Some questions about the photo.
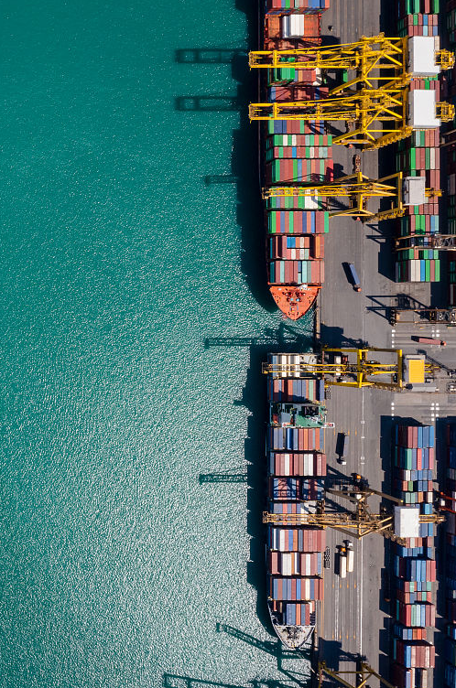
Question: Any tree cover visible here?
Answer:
No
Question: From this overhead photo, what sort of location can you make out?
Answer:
port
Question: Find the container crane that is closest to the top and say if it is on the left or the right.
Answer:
right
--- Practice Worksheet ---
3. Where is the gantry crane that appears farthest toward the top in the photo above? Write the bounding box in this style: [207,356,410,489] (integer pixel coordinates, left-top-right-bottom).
[247,31,455,103]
